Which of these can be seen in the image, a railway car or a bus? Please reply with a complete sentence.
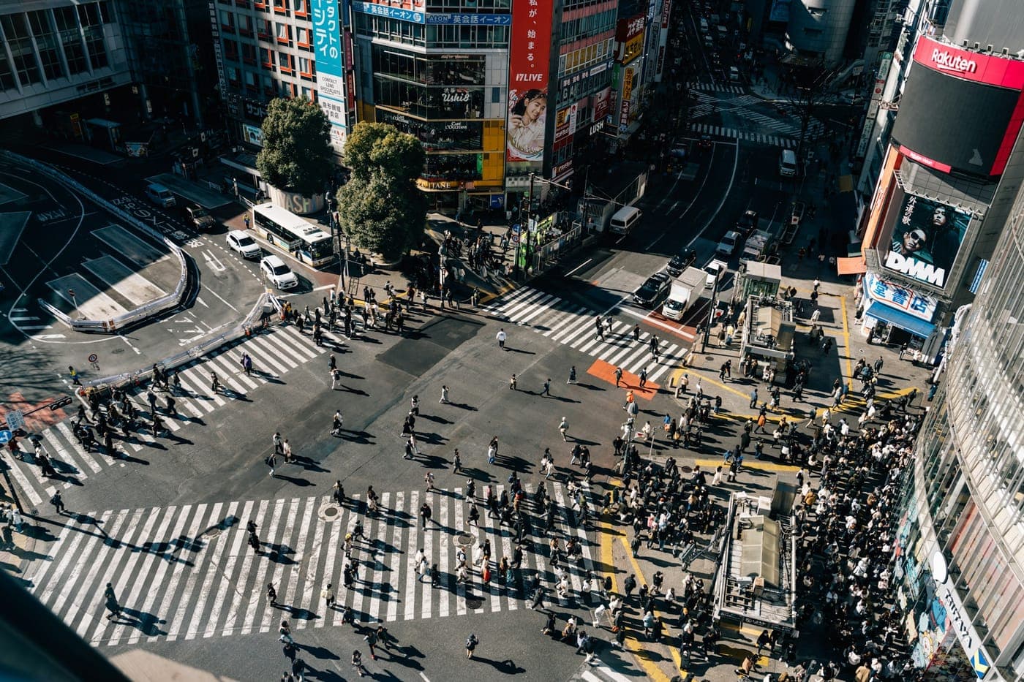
Of the two, only a bus appears.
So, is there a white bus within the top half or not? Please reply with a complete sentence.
Yes, a white bus appears within the top half.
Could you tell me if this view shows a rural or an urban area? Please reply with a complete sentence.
From above, the setting appears urban.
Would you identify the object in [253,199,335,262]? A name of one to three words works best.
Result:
bus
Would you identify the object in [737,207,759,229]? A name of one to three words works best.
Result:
car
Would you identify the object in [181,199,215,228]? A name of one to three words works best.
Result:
car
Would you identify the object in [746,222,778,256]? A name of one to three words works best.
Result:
truck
